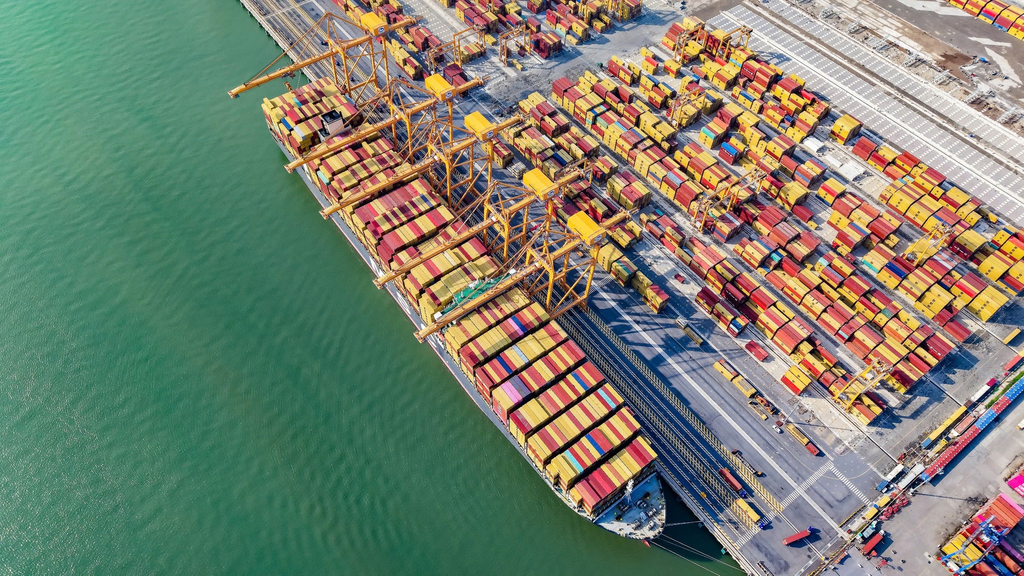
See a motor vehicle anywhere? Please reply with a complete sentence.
Yes, a motor vehicle appears in the view.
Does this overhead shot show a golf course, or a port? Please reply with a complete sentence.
What you see here is a port.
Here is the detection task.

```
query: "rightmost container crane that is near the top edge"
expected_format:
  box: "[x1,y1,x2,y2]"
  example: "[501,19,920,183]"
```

[715,17,756,61]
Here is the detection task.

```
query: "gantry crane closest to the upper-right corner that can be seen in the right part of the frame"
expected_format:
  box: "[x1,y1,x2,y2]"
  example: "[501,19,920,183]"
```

[900,213,959,262]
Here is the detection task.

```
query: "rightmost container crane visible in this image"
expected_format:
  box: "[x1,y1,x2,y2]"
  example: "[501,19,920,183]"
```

[935,511,1013,576]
